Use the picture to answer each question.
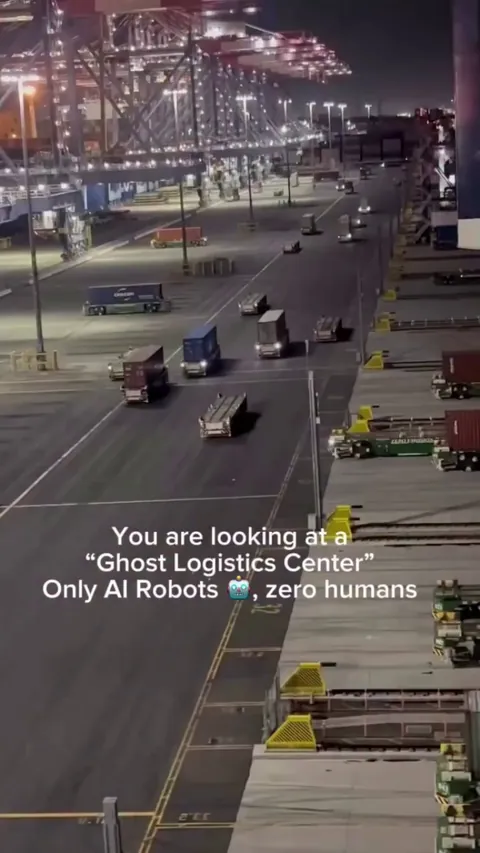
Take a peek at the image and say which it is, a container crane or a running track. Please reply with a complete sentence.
The one in the frame is a container crane.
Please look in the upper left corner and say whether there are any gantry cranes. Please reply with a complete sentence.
Yes, you'll find a gantry crane in the upper left corner.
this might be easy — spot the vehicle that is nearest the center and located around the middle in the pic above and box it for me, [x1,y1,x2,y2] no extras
[199,392,245,433]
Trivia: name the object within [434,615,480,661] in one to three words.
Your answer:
vehicle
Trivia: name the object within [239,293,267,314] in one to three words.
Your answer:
vehicle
